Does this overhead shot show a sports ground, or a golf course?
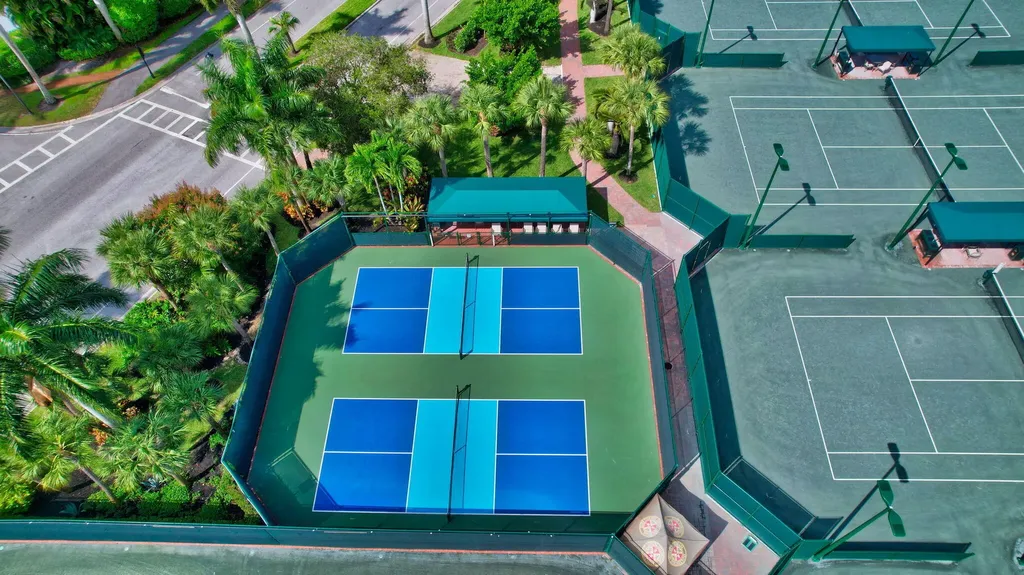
sports ground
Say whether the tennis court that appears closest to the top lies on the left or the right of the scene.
right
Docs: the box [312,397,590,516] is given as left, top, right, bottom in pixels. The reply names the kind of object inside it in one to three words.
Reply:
sports court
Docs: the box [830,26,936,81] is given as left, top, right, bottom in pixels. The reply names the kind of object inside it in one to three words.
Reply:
building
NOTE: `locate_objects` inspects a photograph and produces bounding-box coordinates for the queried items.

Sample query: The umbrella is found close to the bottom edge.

[621,495,710,575]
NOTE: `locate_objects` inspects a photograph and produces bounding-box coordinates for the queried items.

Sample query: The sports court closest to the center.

[343,267,583,354]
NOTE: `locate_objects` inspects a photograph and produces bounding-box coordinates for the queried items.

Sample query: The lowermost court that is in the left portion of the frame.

[0,544,627,575]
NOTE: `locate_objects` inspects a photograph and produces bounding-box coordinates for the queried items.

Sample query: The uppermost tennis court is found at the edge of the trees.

[638,0,1024,68]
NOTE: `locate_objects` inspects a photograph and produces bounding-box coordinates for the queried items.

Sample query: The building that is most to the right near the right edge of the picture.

[907,203,1024,270]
